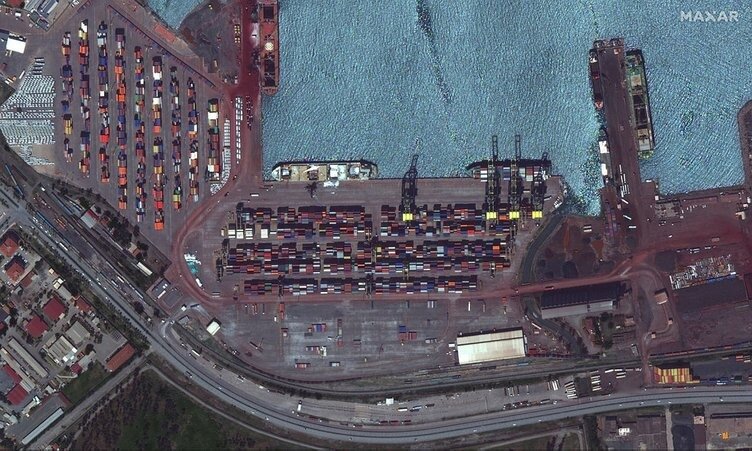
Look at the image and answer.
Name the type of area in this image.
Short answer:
port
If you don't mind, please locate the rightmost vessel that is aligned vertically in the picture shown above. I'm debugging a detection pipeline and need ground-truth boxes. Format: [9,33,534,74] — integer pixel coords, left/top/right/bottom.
[625,48,654,158]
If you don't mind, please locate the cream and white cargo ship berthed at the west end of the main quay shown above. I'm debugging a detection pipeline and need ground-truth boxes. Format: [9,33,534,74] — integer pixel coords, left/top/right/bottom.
[272,162,379,179]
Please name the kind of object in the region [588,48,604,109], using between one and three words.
ship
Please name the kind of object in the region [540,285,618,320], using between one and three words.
building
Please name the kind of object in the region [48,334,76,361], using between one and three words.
building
